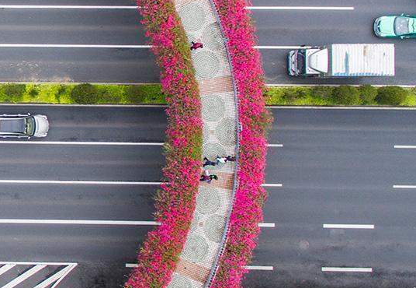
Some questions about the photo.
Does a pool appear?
No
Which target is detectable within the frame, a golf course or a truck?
truck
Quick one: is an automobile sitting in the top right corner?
Yes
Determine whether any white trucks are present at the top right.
Yes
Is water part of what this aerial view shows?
No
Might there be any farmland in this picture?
No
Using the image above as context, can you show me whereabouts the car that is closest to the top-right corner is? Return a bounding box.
[368,13,416,40]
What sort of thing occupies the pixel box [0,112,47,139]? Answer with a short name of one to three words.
car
